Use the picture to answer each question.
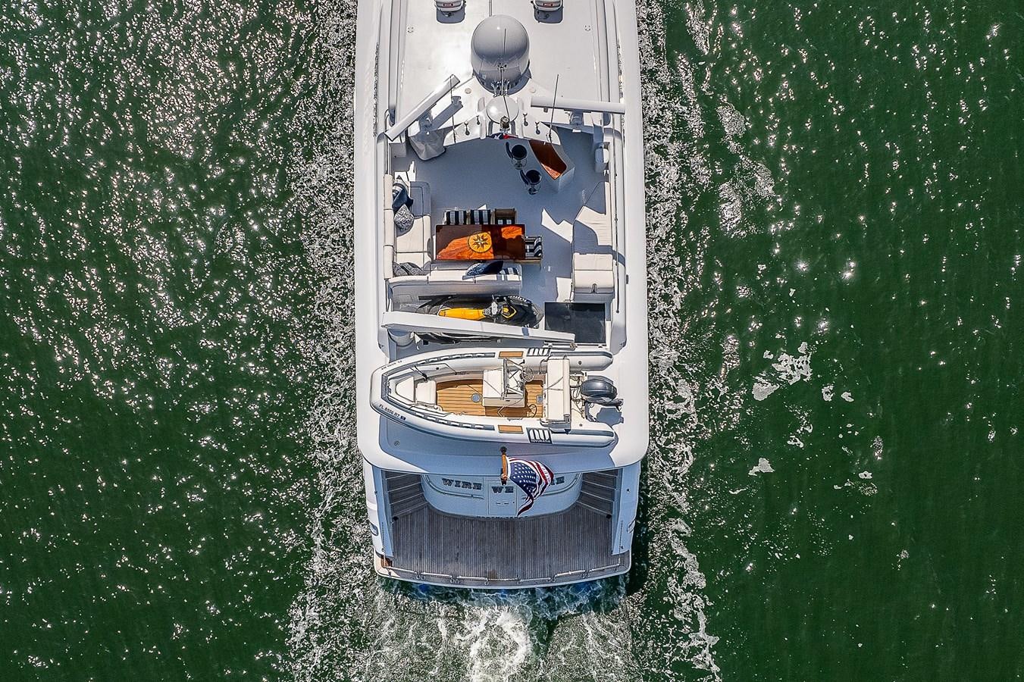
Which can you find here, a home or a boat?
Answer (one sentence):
The image shows a boat.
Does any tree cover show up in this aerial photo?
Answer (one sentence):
No, there's no tree cover in this view.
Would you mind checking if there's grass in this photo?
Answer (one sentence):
No, grass can't be seen anywhere here.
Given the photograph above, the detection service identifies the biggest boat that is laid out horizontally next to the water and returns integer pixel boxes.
[366,347,628,449]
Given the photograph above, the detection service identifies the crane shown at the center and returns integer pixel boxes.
[379,314,575,362]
